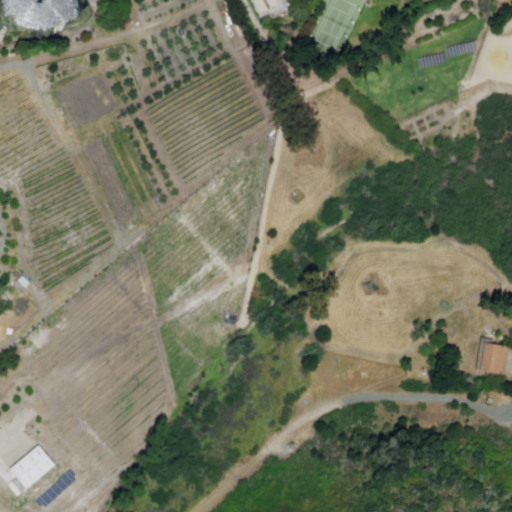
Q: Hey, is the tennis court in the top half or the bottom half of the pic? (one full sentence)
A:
The top half of the photo is where the tennis court is.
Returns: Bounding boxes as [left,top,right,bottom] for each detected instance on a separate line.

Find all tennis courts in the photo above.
[307,0,370,58]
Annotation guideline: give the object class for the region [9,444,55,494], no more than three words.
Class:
barn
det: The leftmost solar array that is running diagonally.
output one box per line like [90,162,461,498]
[37,471,76,507]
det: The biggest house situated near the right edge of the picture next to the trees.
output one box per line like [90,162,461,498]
[476,339,510,374]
